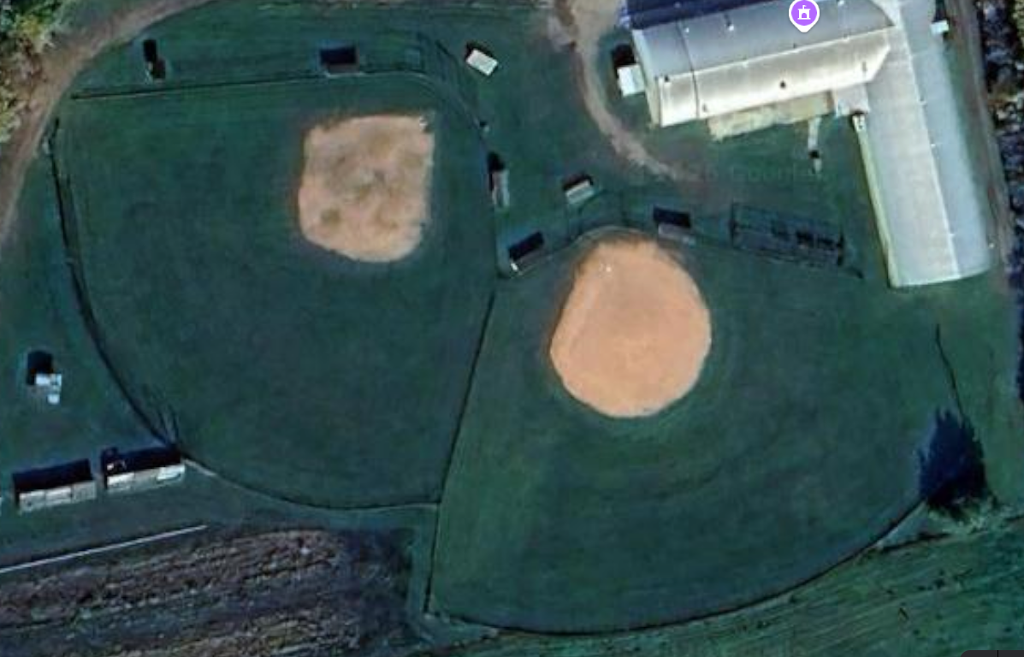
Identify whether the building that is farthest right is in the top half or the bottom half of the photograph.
top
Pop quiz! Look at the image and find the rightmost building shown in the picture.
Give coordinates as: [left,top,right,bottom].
[867,0,991,287]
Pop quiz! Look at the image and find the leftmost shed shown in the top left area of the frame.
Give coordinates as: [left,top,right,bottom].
[148,56,166,81]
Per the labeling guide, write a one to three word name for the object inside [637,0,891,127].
barn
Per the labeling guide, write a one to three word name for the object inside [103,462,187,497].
shed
